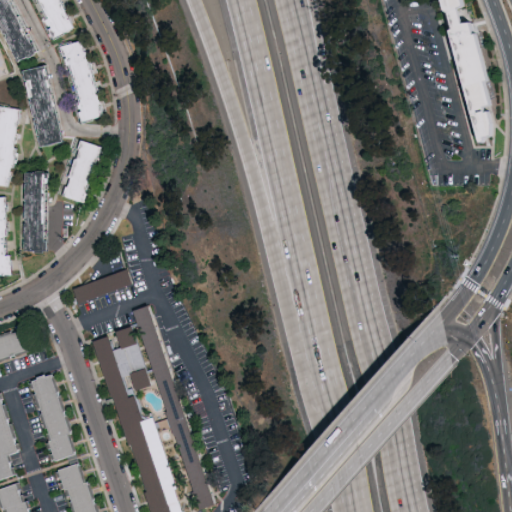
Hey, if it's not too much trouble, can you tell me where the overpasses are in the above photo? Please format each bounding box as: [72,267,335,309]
[253,307,458,512]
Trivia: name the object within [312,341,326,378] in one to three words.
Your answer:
vehicle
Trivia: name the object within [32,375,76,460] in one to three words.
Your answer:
building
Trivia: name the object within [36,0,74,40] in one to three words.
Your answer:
building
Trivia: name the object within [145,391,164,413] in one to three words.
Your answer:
swimming pool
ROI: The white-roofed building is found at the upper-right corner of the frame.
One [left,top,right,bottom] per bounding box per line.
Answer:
[437,0,498,144]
